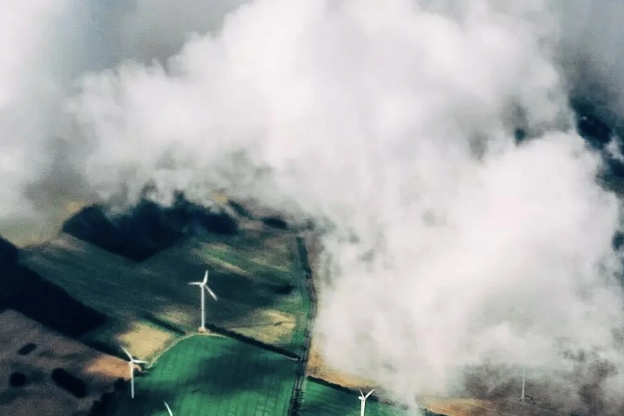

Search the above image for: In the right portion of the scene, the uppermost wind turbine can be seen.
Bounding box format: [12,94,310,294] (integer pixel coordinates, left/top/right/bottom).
[511,341,540,399]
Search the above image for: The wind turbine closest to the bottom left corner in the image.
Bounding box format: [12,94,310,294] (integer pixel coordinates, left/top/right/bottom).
[122,346,145,398]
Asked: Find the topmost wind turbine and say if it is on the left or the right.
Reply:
left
